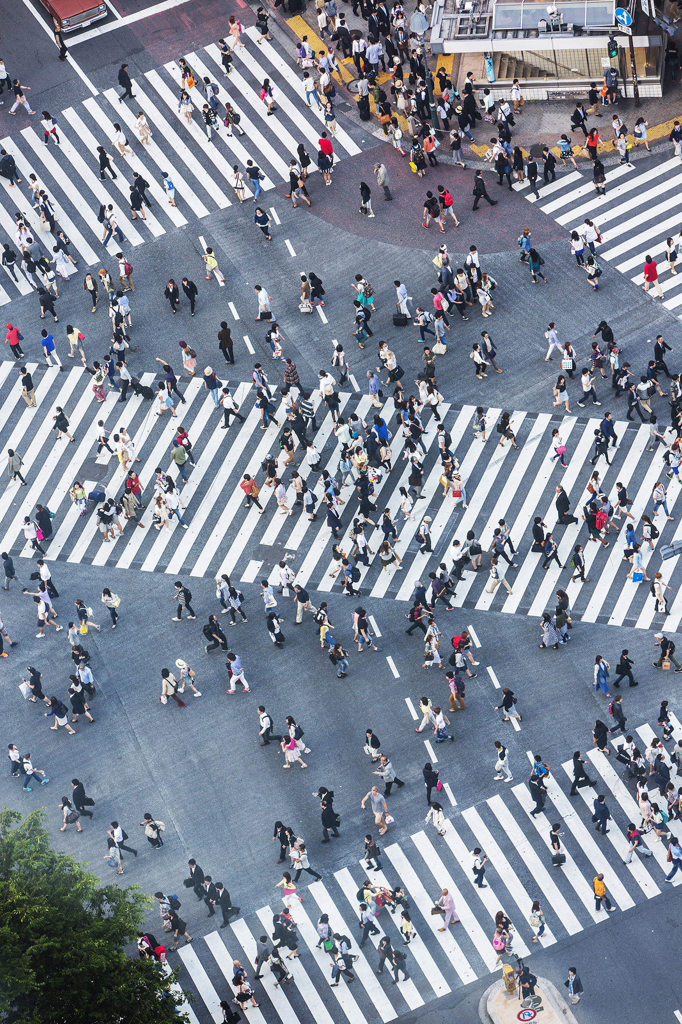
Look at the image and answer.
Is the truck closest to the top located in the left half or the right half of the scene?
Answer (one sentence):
The truck closest to the top appears in the left half of the scene.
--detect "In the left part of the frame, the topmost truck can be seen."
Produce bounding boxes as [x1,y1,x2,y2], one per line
[43,0,107,33]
